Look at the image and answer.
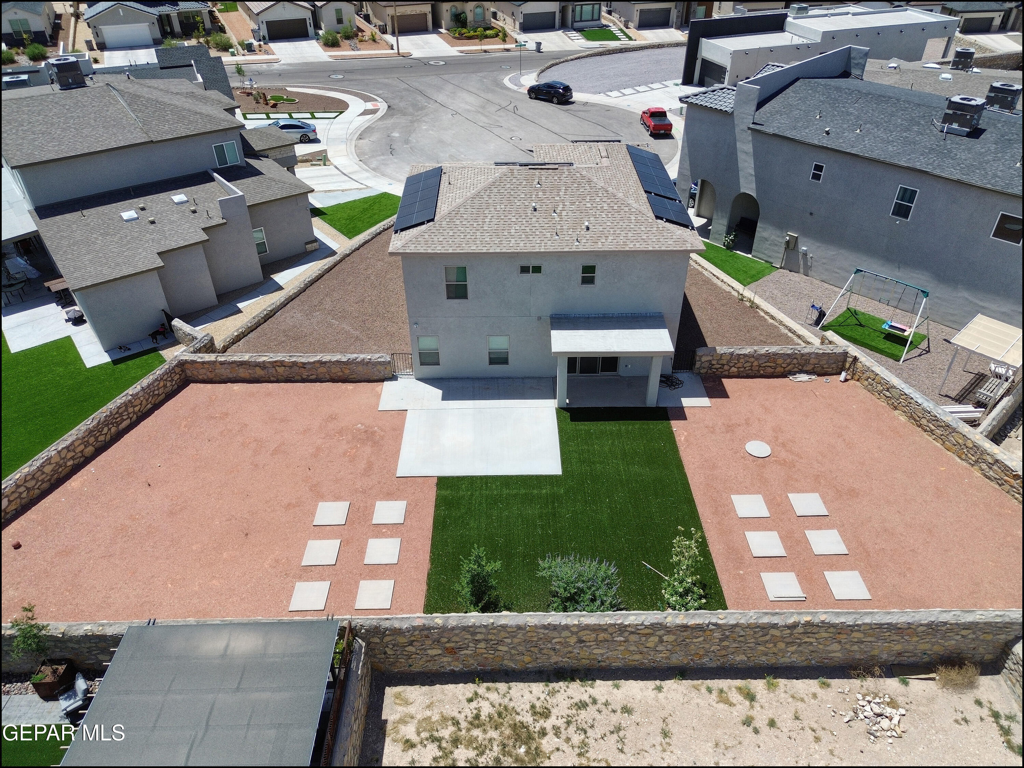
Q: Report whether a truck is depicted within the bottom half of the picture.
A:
No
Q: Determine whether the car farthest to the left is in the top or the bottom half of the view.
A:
top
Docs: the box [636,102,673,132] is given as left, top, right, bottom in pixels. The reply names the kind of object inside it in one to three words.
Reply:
truck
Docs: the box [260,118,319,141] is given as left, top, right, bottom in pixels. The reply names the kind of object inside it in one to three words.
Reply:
car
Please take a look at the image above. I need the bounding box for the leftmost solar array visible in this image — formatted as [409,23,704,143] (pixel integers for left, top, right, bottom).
[393,167,443,233]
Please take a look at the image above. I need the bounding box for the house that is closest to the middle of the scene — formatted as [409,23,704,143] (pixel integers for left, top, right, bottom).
[387,138,707,407]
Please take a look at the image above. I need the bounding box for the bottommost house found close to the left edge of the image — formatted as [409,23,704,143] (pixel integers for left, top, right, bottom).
[0,70,324,350]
